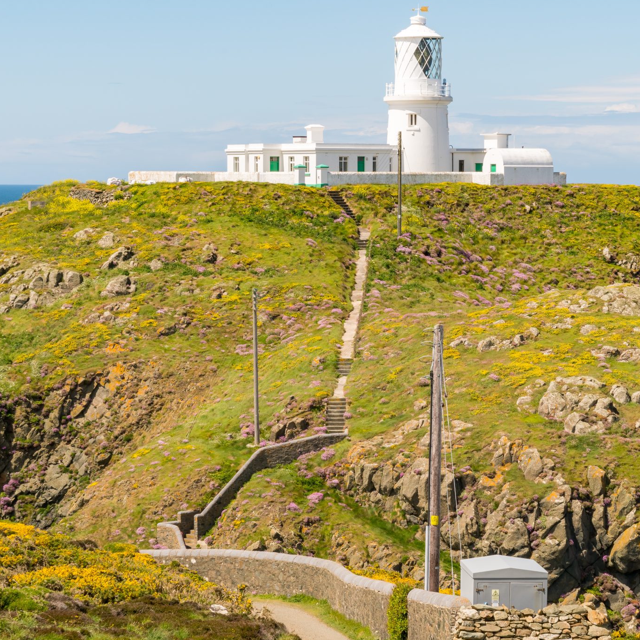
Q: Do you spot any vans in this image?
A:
No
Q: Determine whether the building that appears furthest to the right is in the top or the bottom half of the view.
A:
top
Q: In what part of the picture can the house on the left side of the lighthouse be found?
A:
top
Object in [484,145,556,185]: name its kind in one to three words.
building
